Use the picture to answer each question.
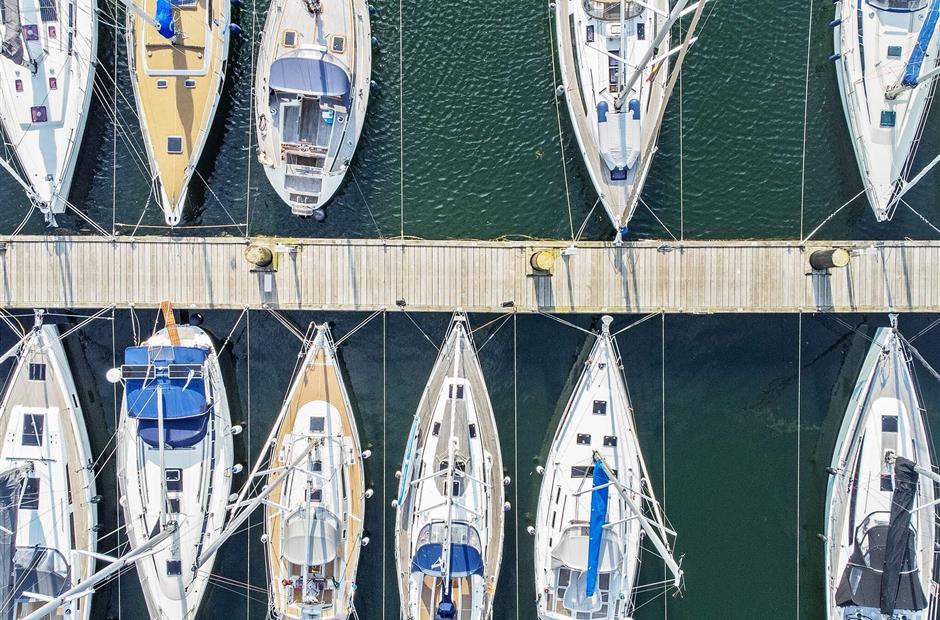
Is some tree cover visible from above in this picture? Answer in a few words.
No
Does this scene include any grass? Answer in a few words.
No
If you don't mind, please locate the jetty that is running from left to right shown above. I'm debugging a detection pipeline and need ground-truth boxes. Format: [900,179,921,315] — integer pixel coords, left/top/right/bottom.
[0,236,940,313]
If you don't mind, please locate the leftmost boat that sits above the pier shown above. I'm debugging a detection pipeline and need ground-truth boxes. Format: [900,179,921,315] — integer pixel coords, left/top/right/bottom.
[0,0,96,228]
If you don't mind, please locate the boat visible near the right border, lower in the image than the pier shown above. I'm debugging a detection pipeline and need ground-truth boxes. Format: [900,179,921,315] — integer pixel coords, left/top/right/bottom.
[824,312,940,620]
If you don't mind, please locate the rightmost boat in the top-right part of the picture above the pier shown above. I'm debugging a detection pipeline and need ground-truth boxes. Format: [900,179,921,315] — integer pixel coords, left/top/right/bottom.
[836,0,940,224]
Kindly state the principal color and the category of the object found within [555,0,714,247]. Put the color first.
white boat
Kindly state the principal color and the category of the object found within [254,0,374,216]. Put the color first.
white boat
